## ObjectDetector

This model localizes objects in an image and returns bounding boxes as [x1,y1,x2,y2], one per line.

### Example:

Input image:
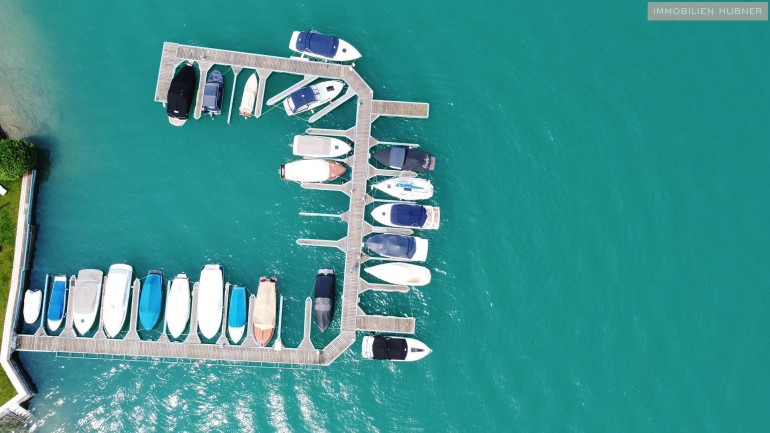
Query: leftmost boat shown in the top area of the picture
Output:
[168,61,197,129]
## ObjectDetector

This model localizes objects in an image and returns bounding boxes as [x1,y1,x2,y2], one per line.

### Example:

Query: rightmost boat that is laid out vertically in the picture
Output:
[314,267,335,333]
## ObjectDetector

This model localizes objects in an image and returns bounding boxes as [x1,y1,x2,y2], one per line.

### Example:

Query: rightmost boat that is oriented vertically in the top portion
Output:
[240,74,259,119]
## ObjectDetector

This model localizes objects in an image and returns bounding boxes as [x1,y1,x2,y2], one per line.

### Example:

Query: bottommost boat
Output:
[362,335,433,362]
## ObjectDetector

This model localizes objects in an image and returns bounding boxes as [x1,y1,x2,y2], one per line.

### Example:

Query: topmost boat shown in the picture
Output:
[289,29,362,62]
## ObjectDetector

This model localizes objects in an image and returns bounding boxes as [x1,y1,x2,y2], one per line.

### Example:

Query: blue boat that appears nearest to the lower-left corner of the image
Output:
[48,272,69,332]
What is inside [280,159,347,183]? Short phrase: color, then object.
white boat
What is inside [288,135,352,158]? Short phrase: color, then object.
white boat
